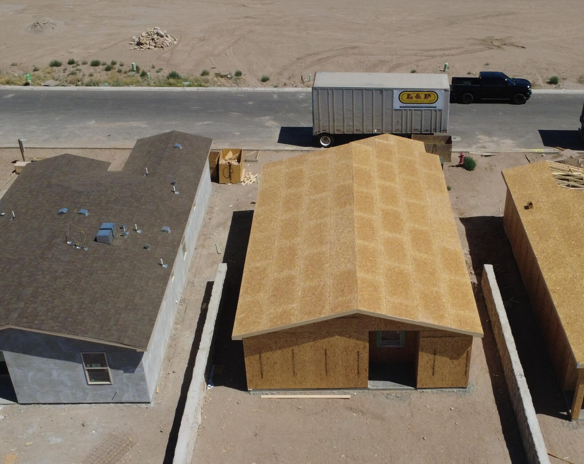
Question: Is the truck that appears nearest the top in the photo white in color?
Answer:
No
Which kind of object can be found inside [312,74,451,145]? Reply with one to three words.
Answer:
trailer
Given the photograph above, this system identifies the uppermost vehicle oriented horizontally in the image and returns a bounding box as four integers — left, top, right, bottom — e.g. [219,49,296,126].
[451,71,537,105]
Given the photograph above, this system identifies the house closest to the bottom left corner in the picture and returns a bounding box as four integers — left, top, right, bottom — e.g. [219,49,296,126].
[0,131,213,410]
